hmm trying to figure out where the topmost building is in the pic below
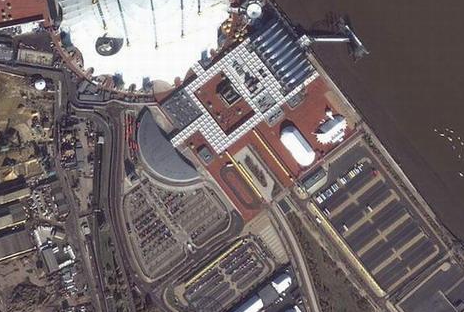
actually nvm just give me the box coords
[243,2,263,23]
